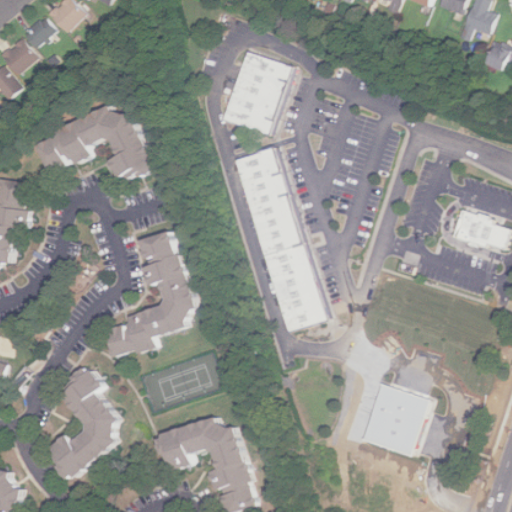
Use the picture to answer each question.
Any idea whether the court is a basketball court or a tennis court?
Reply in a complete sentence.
I'd say the court is a tennis court.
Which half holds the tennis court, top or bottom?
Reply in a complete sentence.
The bottom half of the photo is where the tennis court is.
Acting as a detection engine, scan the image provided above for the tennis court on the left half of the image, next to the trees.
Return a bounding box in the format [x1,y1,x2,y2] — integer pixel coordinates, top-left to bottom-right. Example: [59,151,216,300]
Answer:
[140,351,220,414]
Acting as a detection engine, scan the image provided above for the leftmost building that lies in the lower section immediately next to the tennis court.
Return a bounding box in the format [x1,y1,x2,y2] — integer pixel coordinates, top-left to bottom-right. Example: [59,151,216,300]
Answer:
[52,368,122,477]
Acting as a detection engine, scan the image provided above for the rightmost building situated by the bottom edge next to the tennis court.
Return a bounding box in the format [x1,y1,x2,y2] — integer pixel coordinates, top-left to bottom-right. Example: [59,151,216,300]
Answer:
[155,414,259,512]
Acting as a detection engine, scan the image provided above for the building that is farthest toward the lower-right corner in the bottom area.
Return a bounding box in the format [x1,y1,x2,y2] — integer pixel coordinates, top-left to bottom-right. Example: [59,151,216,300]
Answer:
[363,386,440,458]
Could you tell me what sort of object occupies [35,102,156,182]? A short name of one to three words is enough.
building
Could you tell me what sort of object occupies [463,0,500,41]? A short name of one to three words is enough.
house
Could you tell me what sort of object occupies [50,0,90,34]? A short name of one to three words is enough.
house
